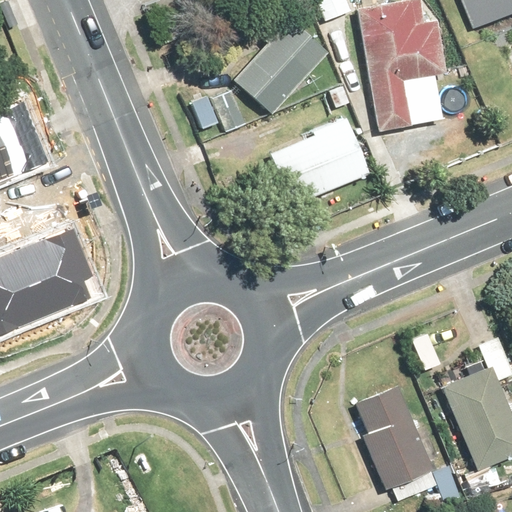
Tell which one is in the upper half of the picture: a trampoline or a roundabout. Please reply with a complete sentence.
What appears in the upper half of the picture is a trampoline.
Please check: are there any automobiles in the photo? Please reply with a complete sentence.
Yes, there is an automobile in the image.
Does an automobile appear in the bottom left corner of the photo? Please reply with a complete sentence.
Yes, you'll find an automobile in the bottom left corner of the photo.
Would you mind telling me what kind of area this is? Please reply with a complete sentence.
The picture captures a residential area.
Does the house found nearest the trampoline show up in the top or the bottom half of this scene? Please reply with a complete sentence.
The top half of the photo is where the house found nearest the trampoline is.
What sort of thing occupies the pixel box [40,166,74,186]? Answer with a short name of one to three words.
car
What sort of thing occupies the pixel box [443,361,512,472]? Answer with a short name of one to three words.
house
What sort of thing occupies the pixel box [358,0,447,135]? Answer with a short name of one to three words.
house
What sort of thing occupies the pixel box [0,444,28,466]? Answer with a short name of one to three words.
car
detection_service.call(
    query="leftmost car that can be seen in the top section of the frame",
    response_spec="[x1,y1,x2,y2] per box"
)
[6,182,37,200]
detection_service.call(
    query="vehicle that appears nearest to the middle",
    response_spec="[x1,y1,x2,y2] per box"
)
[342,284,380,310]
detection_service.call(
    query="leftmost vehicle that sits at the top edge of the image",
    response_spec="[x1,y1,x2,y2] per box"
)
[80,14,103,50]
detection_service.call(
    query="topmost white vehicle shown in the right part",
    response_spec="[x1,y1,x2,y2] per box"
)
[328,27,352,64]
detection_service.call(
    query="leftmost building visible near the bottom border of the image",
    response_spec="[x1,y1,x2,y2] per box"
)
[354,385,437,501]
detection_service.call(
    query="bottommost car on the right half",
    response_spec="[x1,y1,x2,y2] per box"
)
[428,325,459,344]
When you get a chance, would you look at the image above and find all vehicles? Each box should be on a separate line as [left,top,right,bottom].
[434,201,460,218]
[342,284,380,310]
[40,166,74,186]
[198,72,233,92]
[30,500,65,512]
[80,14,103,50]
[503,172,512,188]
[328,27,352,64]
[6,182,37,200]
[338,60,362,94]
[0,444,28,466]
[502,236,512,253]
[428,325,459,344]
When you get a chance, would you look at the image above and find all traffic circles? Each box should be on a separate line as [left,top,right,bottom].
[170,302,244,376]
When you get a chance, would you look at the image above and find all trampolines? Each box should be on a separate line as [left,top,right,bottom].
[440,86,467,114]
